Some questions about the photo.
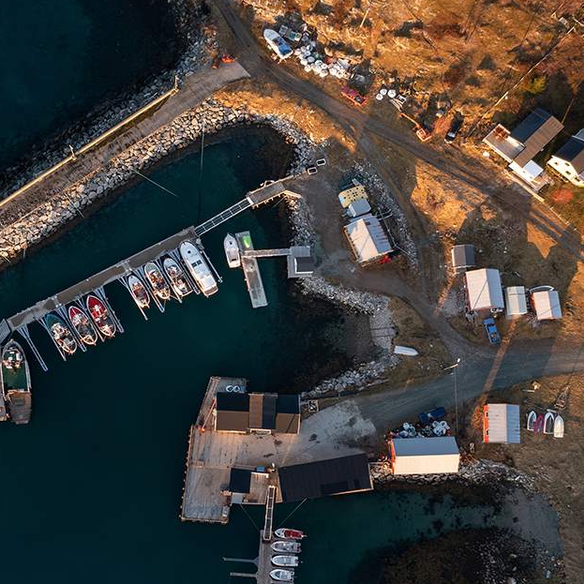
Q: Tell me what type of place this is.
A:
port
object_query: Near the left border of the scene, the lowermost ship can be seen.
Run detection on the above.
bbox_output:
[7,391,32,425]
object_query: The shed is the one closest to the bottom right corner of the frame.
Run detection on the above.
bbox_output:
[482,403,522,444]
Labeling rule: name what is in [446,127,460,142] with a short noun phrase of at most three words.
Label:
car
